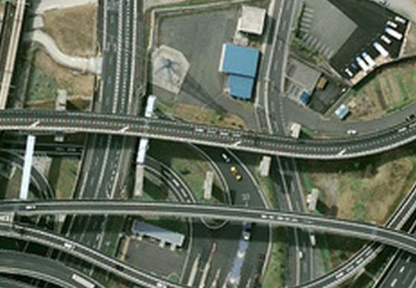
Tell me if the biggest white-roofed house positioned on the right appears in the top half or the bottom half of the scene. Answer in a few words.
top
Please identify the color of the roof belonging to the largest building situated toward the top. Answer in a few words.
blue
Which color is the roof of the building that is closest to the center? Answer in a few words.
blue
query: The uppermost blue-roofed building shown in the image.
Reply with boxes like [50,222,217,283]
[221,44,260,78]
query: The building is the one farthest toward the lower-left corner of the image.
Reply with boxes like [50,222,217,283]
[132,221,185,250]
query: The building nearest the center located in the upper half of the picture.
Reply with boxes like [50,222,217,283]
[228,75,254,99]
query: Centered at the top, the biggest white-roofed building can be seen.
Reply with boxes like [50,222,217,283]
[239,6,265,35]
